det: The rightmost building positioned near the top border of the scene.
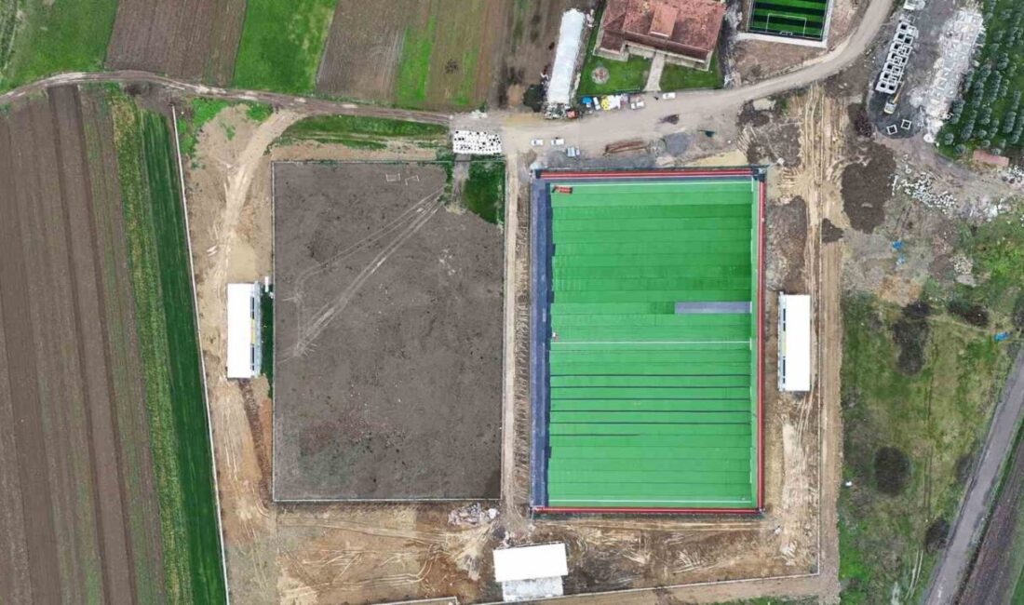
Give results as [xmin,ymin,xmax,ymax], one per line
[592,0,726,70]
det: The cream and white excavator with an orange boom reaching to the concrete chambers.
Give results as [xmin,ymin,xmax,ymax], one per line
[883,75,910,113]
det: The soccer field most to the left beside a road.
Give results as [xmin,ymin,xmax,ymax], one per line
[273,161,503,501]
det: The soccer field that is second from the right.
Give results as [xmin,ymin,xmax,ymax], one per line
[531,168,763,509]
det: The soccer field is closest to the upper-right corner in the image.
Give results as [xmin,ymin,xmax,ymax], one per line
[737,0,835,47]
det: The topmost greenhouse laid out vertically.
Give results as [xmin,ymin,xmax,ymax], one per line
[547,6,585,105]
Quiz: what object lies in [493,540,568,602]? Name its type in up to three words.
building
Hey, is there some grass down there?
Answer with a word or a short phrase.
Yes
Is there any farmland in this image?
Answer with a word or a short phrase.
Yes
